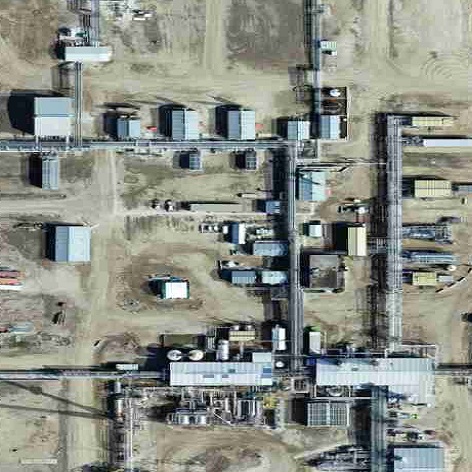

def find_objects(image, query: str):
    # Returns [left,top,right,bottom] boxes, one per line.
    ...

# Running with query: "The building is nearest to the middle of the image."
[231,223,247,244]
